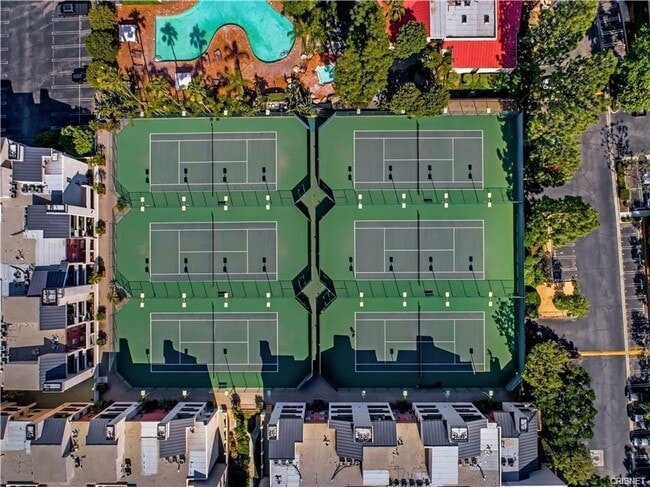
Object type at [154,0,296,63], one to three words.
swimming pool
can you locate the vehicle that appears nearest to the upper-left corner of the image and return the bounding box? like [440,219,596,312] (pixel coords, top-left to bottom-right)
[56,1,88,17]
